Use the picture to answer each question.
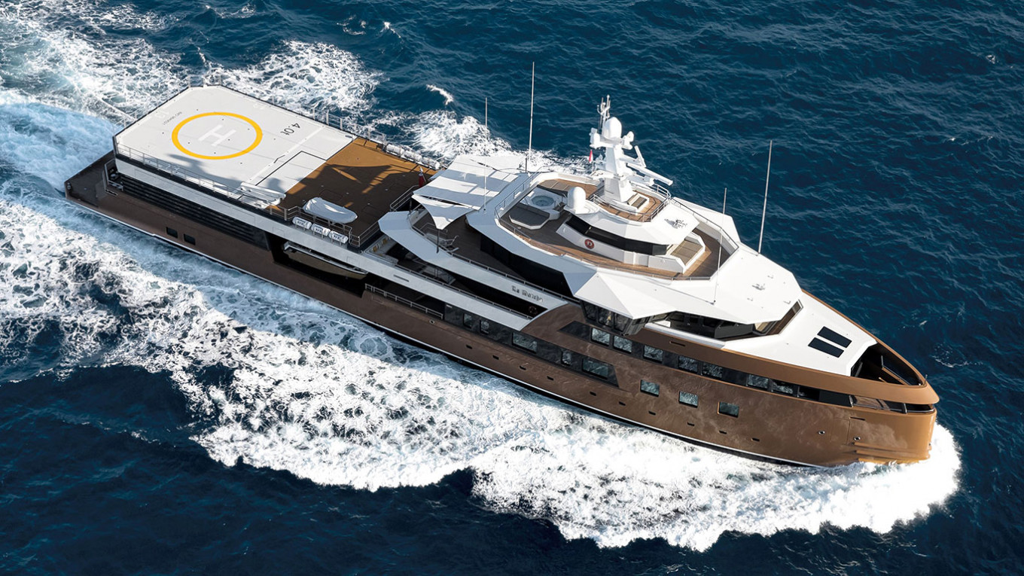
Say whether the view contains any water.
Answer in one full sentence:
Yes, water can be seen from above here.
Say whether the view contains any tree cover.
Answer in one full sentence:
No, there's no tree cover in this view.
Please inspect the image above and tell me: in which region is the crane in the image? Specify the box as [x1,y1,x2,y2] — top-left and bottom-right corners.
[236,179,285,208]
